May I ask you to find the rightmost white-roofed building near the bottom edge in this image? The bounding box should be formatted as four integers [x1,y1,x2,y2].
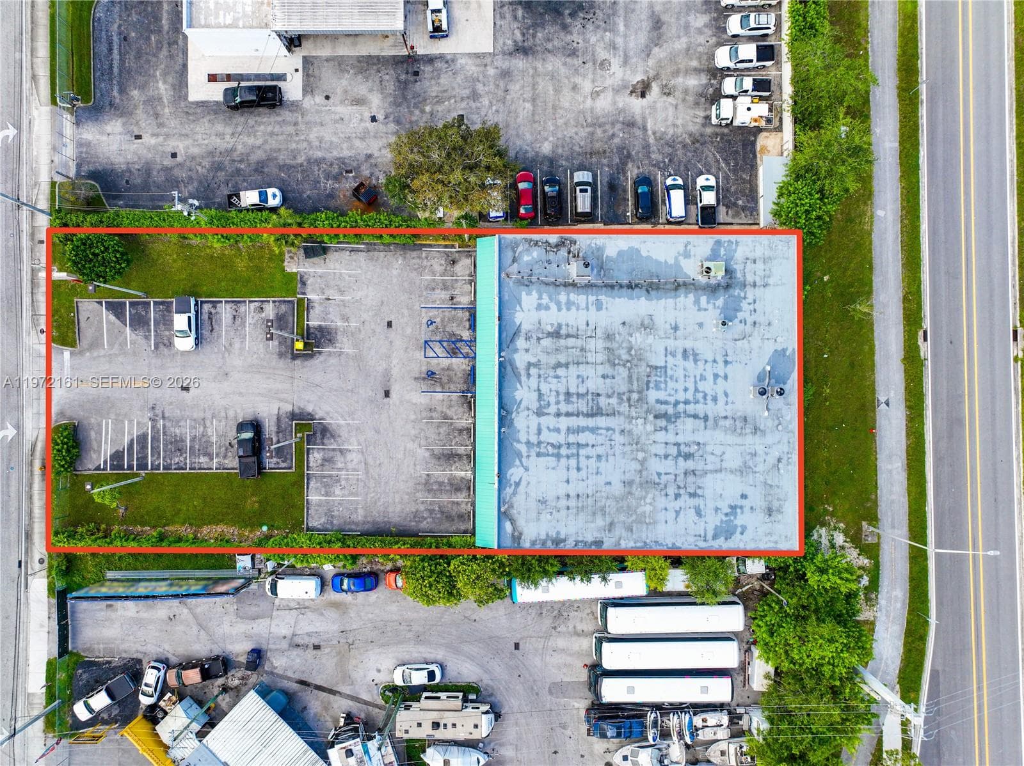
[197,674,344,766]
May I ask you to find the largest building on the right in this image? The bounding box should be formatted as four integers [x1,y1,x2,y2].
[476,231,800,552]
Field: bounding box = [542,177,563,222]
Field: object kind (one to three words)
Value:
car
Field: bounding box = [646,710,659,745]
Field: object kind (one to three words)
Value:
boat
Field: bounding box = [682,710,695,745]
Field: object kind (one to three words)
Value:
boat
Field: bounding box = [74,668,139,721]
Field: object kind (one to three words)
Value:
truck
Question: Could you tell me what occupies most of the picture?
paved ground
